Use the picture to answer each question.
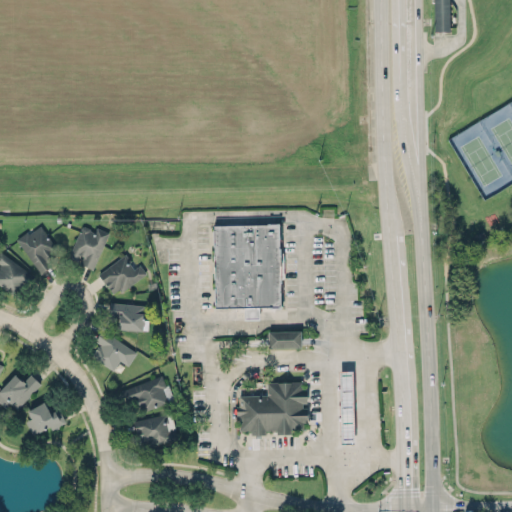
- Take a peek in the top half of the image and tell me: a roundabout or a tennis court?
tennis court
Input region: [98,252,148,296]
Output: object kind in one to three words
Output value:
house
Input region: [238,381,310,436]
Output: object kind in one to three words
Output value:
building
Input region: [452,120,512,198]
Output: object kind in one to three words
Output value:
tennis court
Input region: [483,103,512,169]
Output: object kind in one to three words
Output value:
tennis court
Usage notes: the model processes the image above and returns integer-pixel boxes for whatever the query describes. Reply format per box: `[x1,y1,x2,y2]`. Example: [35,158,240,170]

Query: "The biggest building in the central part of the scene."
[214,222,284,308]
